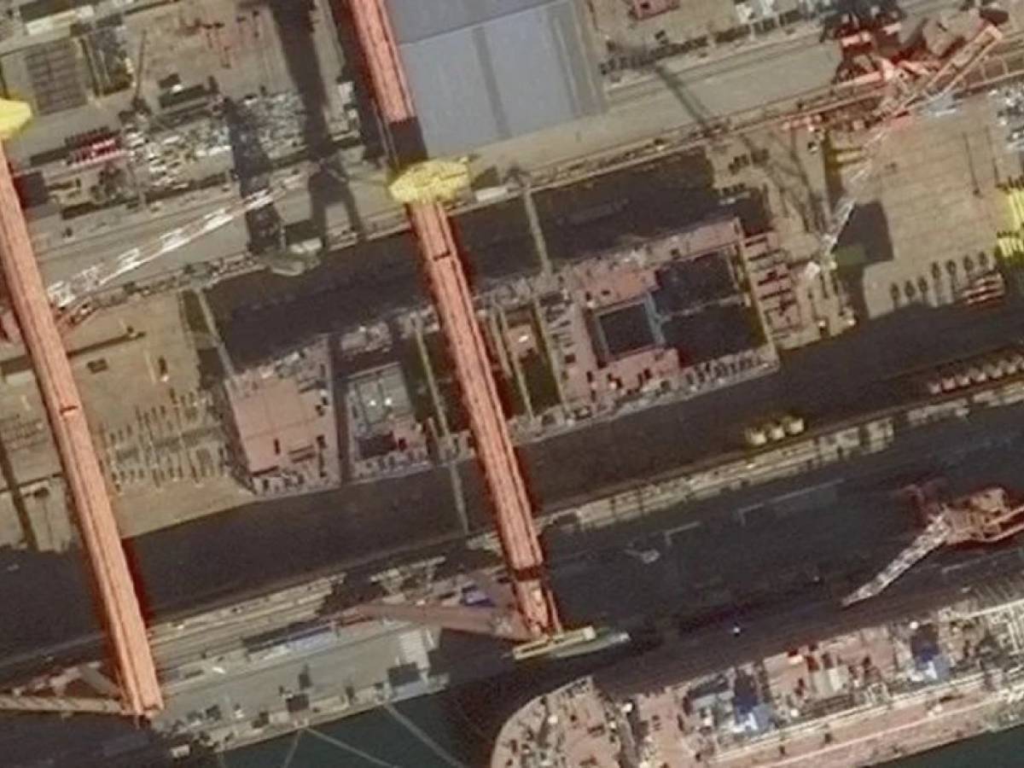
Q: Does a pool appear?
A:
No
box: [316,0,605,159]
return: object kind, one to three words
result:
building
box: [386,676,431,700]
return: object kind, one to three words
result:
shed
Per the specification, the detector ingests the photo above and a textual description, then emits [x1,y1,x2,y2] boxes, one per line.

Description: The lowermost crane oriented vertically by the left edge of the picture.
[0,91,159,719]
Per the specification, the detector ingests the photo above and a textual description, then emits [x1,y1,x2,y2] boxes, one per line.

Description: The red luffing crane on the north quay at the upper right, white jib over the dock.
[784,22,1006,277]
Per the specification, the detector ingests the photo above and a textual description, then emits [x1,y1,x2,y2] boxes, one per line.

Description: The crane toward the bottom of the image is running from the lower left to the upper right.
[818,479,1024,607]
